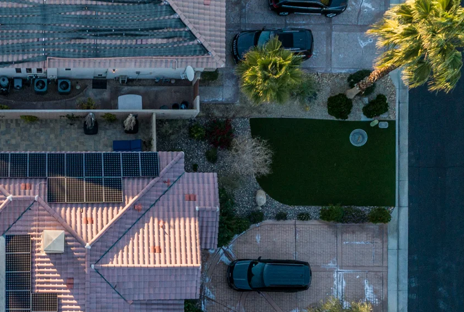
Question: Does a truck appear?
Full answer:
No, there appears to be no truck in this shot.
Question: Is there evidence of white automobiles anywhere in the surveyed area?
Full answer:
No, I can see no white automobile in this picture.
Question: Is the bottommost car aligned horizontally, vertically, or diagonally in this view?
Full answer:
I'd say the bottommost car is aligned horizontally in the picture.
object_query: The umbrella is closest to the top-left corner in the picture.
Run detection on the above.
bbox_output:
[83,113,98,135]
